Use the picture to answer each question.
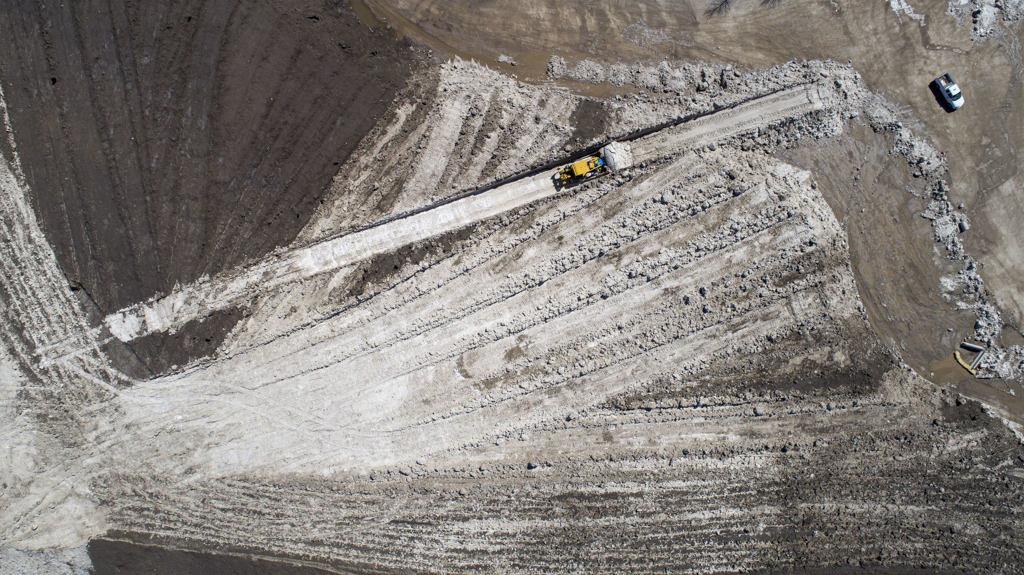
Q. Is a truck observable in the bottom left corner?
No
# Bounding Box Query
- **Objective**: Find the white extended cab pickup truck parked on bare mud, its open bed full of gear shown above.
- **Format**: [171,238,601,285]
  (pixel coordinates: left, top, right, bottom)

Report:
[933,74,963,112]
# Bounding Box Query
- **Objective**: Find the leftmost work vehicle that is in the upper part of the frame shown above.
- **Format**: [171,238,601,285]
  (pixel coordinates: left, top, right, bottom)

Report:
[556,148,611,185]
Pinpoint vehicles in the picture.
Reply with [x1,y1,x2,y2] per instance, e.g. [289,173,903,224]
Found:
[556,148,611,185]
[933,74,963,112]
